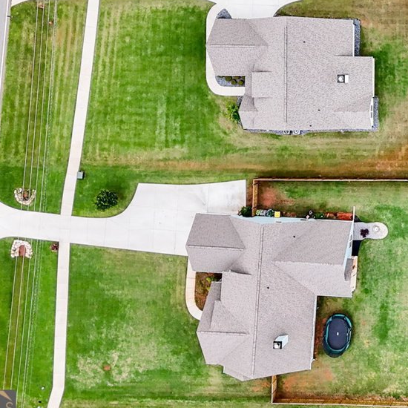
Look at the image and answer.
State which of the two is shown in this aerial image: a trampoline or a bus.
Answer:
trampoline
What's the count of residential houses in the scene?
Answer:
2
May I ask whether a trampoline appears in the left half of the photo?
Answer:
No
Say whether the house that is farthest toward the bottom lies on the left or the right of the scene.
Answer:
right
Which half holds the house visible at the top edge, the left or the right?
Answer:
right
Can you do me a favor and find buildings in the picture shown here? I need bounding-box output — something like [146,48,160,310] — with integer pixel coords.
[207,17,376,130]
[185,213,367,385]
